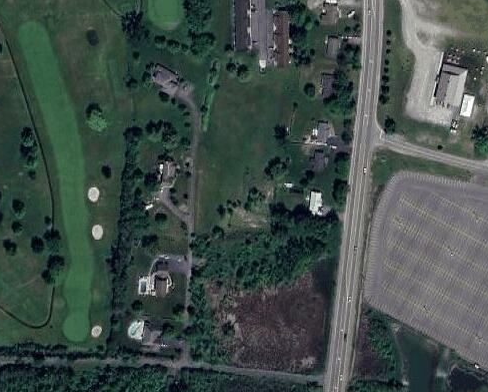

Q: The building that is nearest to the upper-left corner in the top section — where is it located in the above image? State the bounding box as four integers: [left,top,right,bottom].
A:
[149,62,179,97]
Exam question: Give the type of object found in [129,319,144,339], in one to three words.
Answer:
swimming pool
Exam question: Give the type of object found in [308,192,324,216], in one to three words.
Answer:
barn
